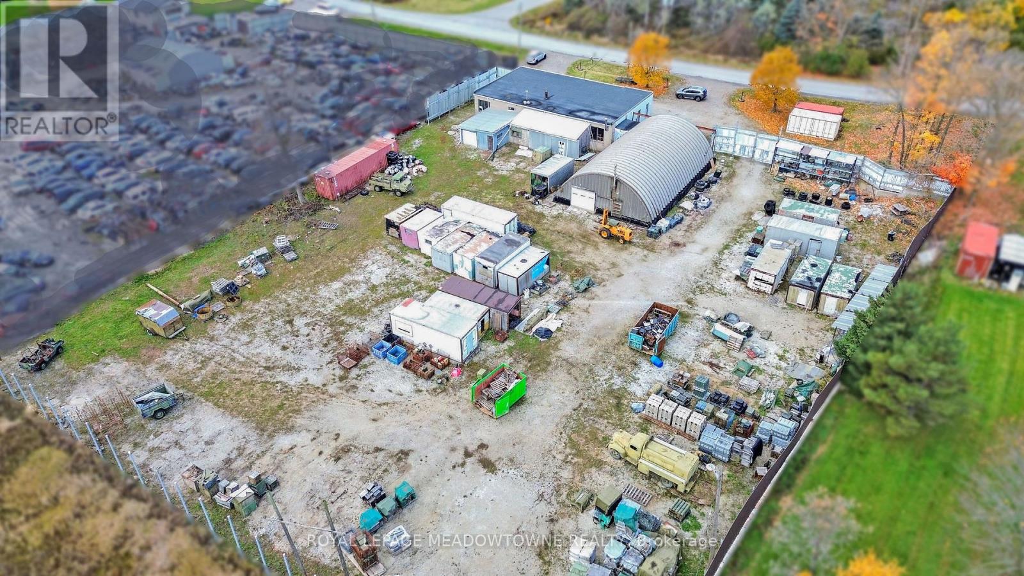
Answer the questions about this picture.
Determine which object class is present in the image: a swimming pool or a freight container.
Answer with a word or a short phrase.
freight container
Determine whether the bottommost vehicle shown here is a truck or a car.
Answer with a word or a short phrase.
truck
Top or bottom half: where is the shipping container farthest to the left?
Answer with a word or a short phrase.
top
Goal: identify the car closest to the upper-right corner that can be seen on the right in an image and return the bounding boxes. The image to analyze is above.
[674,86,707,101]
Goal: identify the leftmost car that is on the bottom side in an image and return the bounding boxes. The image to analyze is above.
[15,337,62,371]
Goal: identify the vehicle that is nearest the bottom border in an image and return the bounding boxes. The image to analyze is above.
[606,427,703,495]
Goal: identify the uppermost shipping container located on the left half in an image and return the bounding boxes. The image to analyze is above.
[310,138,404,196]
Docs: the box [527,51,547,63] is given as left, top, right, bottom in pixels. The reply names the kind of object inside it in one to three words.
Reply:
vehicle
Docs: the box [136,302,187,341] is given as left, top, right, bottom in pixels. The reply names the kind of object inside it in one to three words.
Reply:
trailer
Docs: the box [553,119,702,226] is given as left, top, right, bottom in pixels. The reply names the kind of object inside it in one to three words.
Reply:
shed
